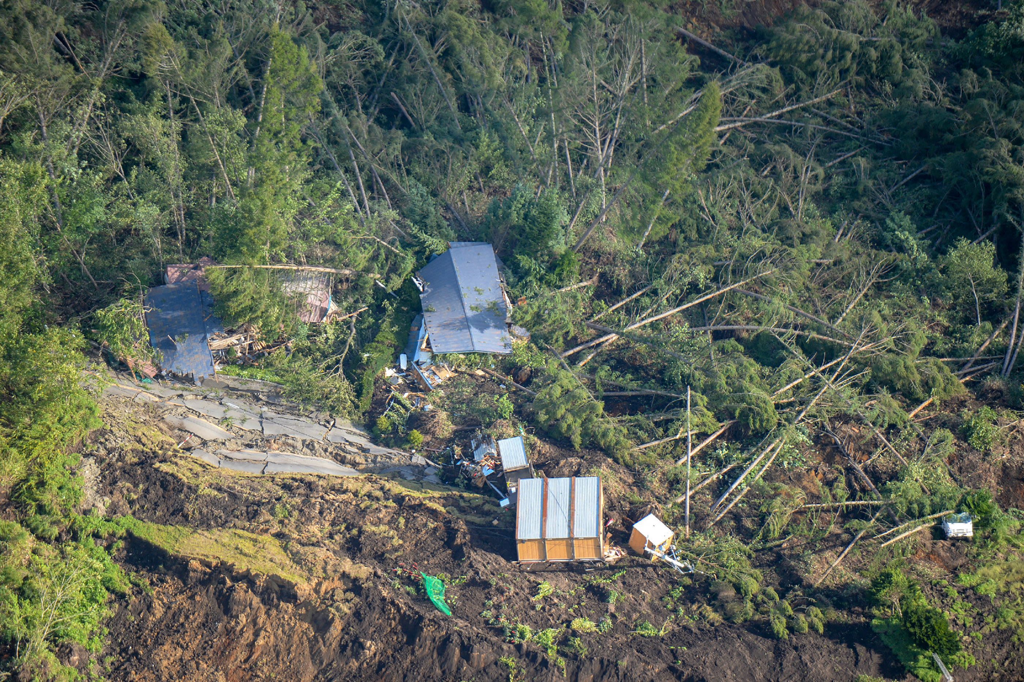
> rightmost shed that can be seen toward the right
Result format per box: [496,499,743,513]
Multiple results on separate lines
[630,514,673,559]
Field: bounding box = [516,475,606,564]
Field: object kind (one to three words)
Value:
shed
